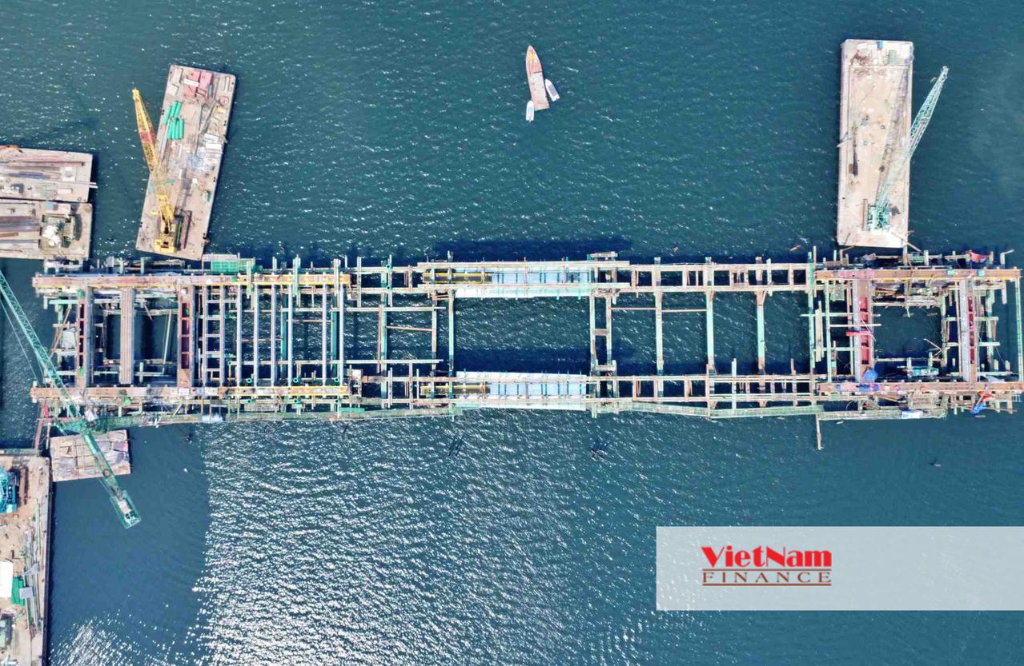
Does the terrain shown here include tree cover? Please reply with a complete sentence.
No, the picture contains no tree cover.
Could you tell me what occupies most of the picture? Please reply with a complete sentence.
The bulk of the photo consists of water.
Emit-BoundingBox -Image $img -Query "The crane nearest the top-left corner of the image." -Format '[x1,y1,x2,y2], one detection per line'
[132,87,187,256]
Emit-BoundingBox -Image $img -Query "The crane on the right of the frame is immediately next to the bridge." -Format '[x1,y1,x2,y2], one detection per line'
[859,62,949,233]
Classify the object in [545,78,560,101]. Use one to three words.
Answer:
boat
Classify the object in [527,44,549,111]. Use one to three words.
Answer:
boat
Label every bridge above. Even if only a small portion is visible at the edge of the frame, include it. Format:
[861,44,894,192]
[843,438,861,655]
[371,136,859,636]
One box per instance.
[30,233,1024,450]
